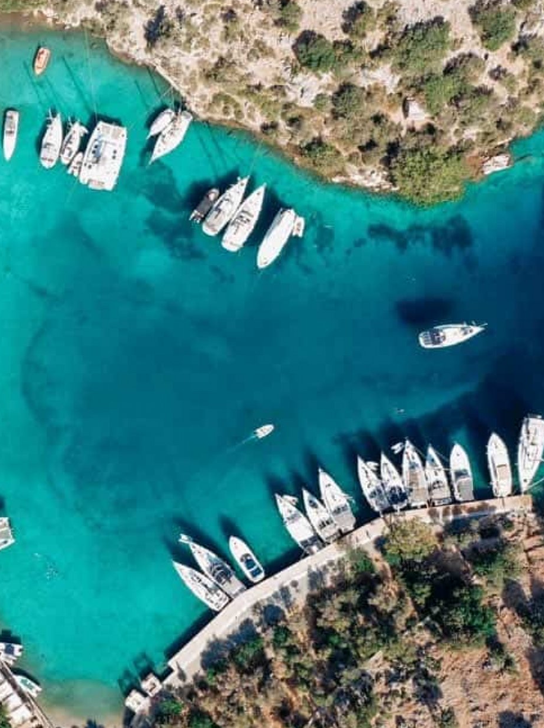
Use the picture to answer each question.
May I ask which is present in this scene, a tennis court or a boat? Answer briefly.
boat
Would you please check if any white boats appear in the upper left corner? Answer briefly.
Yes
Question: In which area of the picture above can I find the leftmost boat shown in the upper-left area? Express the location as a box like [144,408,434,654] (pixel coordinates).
[1,108,18,160]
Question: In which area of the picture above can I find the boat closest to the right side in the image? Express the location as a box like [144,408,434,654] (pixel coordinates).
[513,414,544,494]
